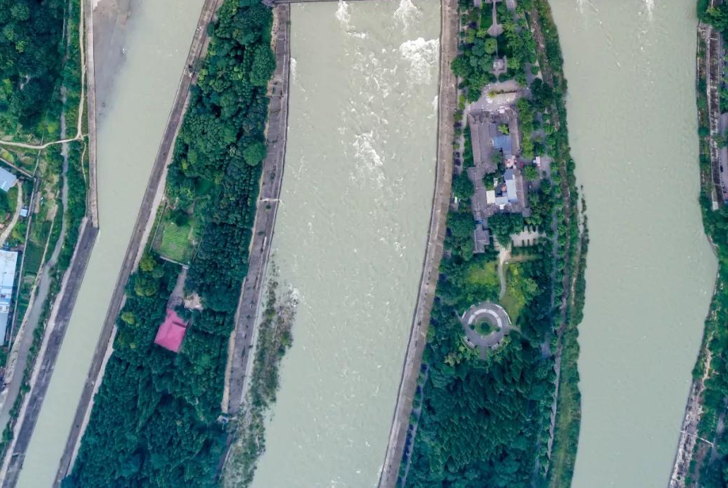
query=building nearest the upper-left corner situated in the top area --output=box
[0,163,19,193]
